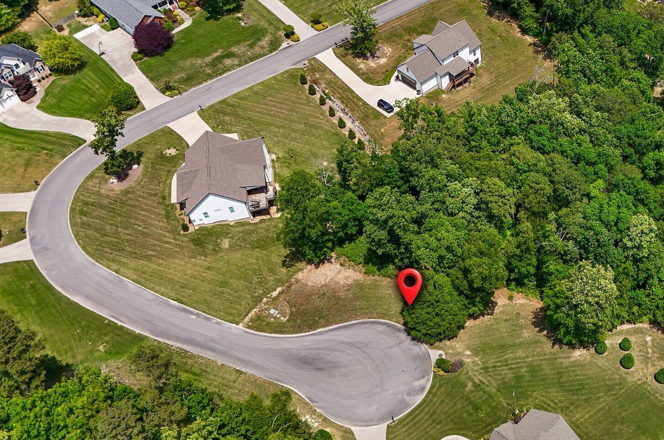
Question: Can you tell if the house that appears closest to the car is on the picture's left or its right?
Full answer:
The house that appears closest to the car is on the right side of the image.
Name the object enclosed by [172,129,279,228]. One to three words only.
house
